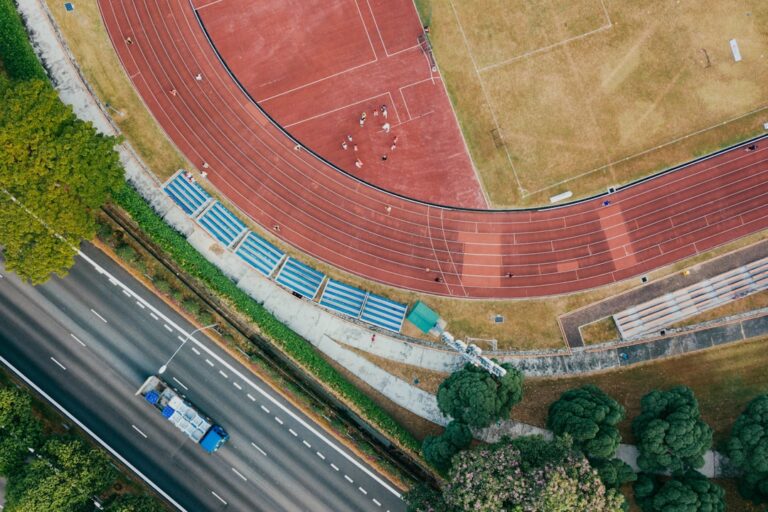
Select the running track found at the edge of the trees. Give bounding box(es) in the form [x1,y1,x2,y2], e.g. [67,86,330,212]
[93,0,768,306]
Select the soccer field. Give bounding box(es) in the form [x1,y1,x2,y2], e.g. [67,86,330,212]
[416,0,768,209]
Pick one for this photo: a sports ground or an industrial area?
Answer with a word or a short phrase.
sports ground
